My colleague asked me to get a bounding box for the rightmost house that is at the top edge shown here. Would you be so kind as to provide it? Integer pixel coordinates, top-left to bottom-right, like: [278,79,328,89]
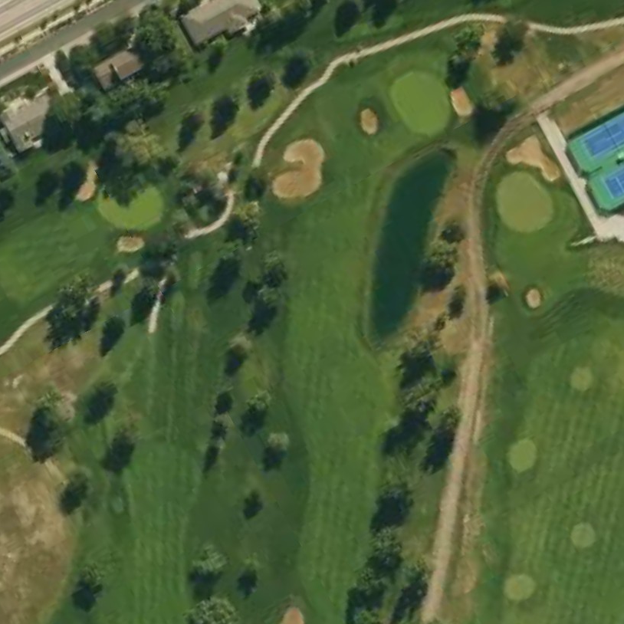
[176,0,263,47]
